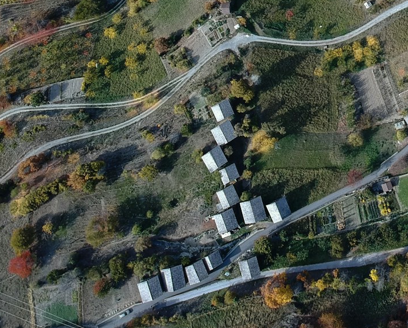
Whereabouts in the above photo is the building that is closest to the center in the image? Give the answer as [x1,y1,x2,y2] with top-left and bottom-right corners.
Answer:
[201,145,229,173]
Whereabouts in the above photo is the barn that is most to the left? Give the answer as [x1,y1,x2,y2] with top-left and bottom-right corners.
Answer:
[137,273,167,302]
